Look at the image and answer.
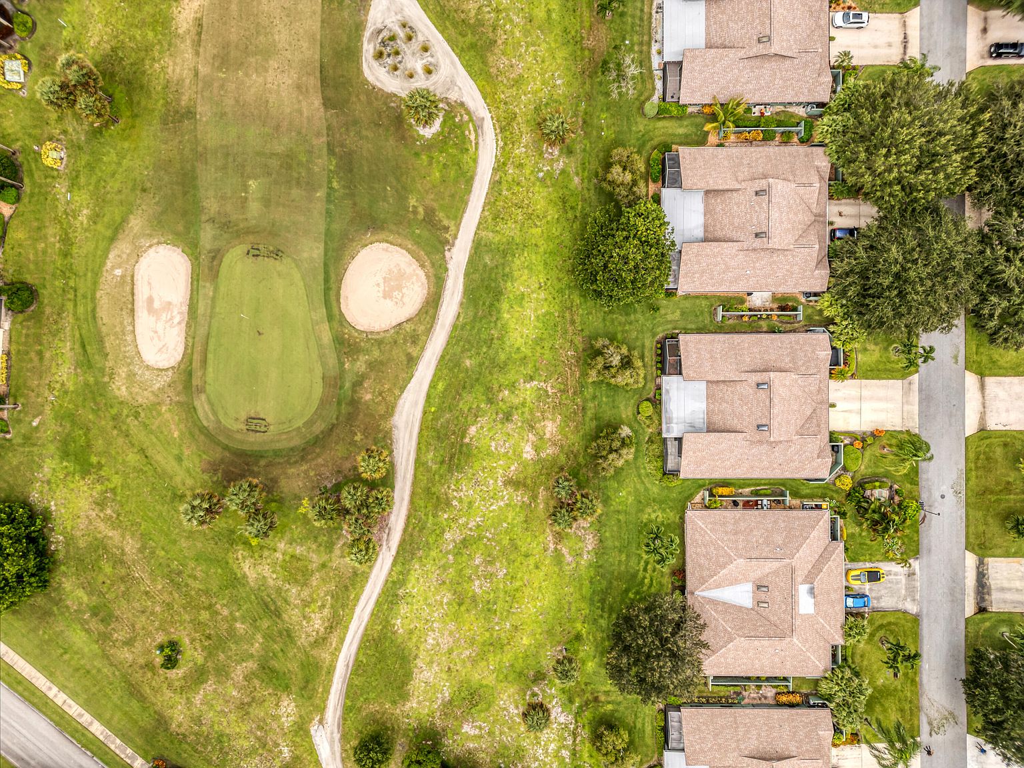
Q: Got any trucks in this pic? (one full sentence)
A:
No, I can't see a single truck in this photo.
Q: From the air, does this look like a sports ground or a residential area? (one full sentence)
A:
What you see here is a residential area.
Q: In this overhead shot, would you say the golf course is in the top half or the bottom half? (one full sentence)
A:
The golf course sits in the top half of the picture.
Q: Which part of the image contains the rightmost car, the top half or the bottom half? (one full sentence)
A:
The top half of the photo is where the rightmost car is.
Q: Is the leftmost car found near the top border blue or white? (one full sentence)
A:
The leftmost car found near the top border looks white in the image.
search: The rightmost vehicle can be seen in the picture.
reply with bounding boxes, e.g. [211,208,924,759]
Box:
[988,40,1024,61]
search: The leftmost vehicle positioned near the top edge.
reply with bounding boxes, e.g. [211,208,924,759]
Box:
[832,10,871,30]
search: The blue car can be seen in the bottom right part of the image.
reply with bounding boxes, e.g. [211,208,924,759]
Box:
[845,592,873,610]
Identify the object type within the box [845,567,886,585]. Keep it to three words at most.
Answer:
car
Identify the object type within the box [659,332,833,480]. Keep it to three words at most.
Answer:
house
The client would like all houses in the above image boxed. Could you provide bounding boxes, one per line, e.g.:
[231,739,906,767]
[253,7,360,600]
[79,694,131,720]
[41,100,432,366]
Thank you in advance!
[685,509,845,677]
[659,0,833,108]
[661,702,833,768]
[659,332,833,480]
[658,146,833,293]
